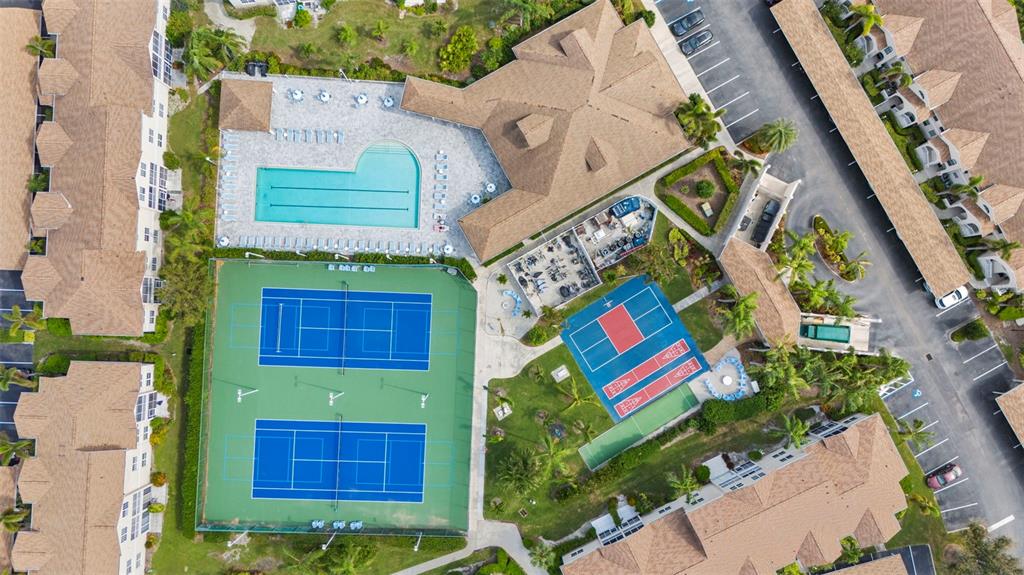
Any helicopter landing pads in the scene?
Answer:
No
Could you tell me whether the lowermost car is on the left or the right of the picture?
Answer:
right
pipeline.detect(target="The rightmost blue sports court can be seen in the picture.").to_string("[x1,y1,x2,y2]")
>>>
[560,276,711,424]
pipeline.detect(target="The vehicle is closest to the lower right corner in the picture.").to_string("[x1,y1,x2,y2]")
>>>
[925,462,961,488]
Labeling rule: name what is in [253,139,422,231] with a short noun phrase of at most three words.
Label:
swimming pool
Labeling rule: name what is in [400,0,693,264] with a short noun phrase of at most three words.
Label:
building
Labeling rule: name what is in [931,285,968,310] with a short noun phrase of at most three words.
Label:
car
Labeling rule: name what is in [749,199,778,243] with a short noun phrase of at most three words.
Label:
truck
